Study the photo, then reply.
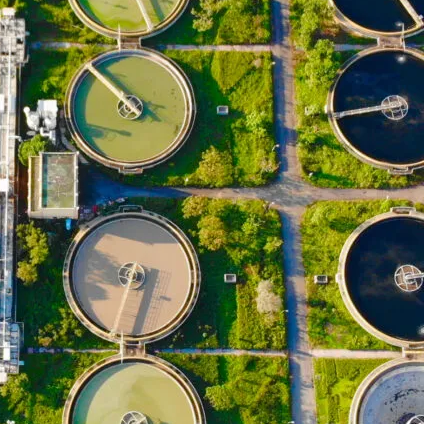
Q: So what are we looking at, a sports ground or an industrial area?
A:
industrial area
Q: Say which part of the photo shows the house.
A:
left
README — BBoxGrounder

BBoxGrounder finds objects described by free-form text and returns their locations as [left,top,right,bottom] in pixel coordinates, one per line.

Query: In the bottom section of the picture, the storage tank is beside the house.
[63,201,200,345]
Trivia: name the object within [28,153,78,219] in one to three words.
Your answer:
house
